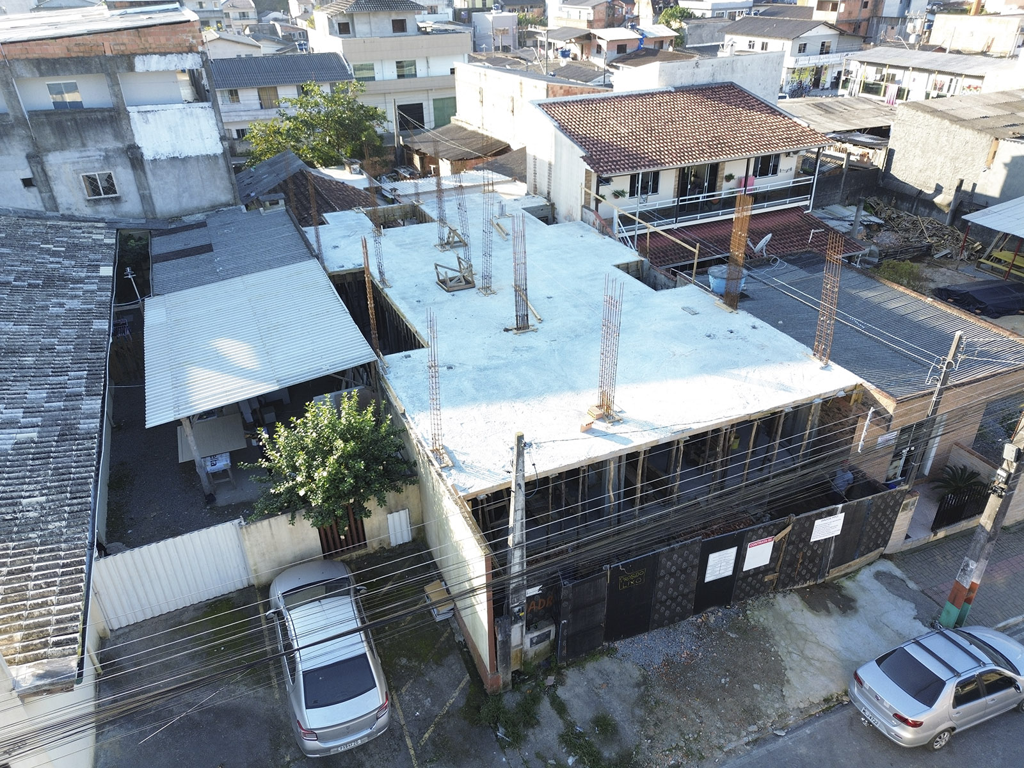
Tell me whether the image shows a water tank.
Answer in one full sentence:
Yes, a water tank can be made out from above.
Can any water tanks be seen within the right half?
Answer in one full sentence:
Yes, you'll find a water tank within the right half.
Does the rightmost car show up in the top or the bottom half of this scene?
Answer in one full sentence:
You can find the rightmost car in the bottom half.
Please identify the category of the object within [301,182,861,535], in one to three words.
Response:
building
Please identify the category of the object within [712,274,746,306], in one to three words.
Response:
water tank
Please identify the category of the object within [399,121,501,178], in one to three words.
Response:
shed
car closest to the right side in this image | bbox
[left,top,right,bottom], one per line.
[854,611,1024,747]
